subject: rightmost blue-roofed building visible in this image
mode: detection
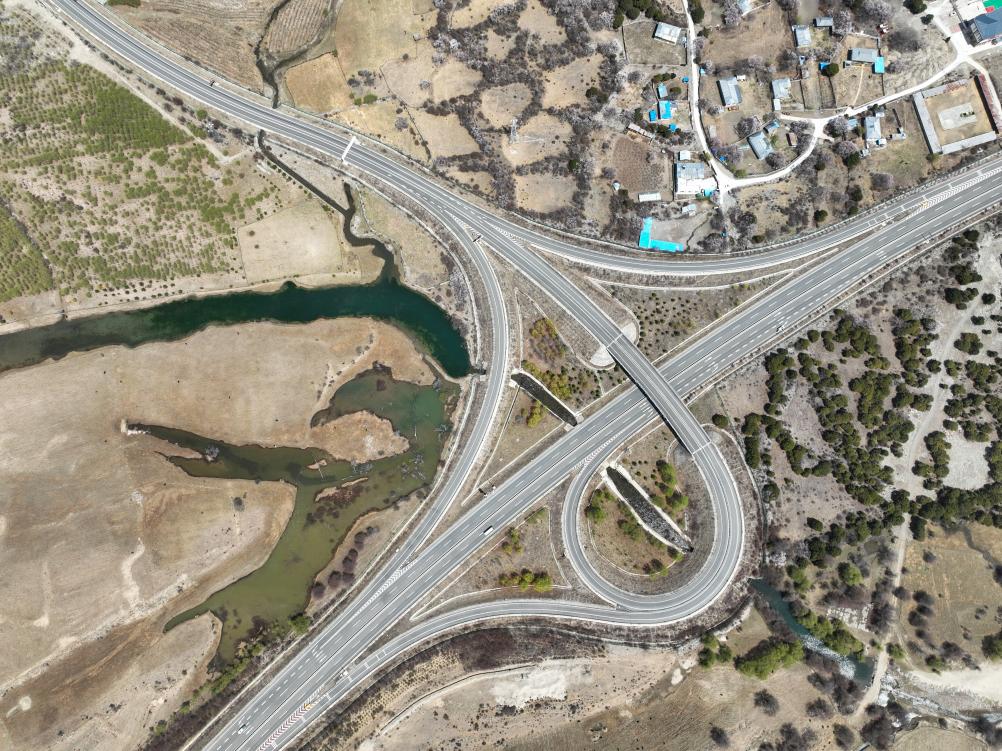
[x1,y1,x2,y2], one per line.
[957,7,1002,47]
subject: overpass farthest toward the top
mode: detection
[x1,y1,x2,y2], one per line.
[607,333,710,455]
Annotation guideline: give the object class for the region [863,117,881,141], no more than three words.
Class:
house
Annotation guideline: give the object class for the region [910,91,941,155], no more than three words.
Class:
house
